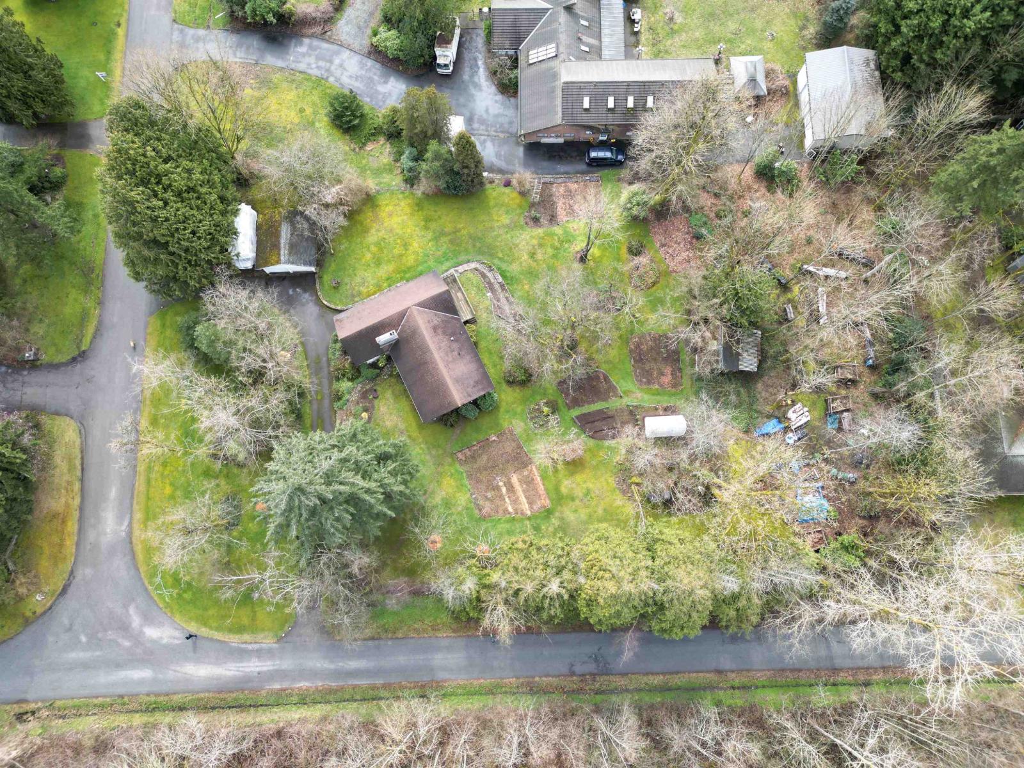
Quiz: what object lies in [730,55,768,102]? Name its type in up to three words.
building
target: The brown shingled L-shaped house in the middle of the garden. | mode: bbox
[334,270,494,423]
